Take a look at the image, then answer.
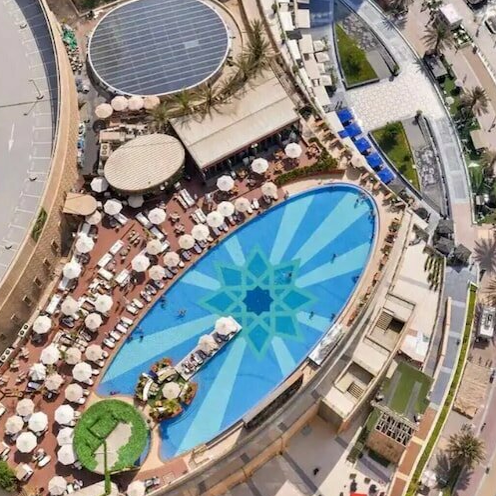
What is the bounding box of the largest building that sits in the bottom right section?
[317,296,415,434]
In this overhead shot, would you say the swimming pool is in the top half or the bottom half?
bottom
